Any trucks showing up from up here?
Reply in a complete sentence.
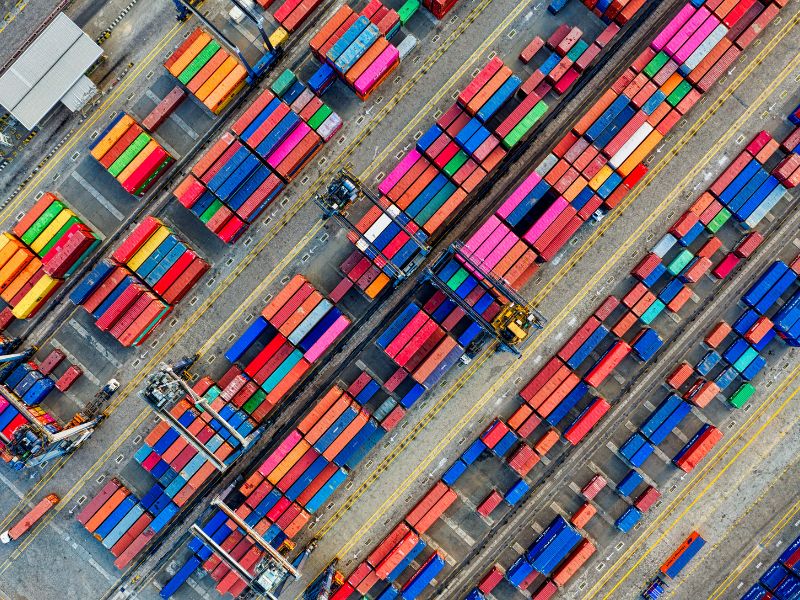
Yes, there's a truck here.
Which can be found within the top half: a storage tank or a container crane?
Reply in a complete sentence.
What appears within the top half is a container crane.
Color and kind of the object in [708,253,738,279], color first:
red shipping container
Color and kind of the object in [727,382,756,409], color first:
green shipping container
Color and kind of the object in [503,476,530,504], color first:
blue shipping container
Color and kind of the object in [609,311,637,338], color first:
red shipping container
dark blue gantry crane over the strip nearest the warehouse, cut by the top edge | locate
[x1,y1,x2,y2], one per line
[170,0,287,91]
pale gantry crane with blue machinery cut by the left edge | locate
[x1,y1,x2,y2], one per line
[0,341,112,476]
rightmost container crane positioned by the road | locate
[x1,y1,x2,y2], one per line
[421,238,545,352]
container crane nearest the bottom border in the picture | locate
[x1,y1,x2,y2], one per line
[297,550,346,600]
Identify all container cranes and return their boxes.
[191,466,324,600]
[0,341,112,476]
[297,550,346,600]
[170,0,287,91]
[316,166,435,286]
[138,347,277,474]
[421,238,545,352]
